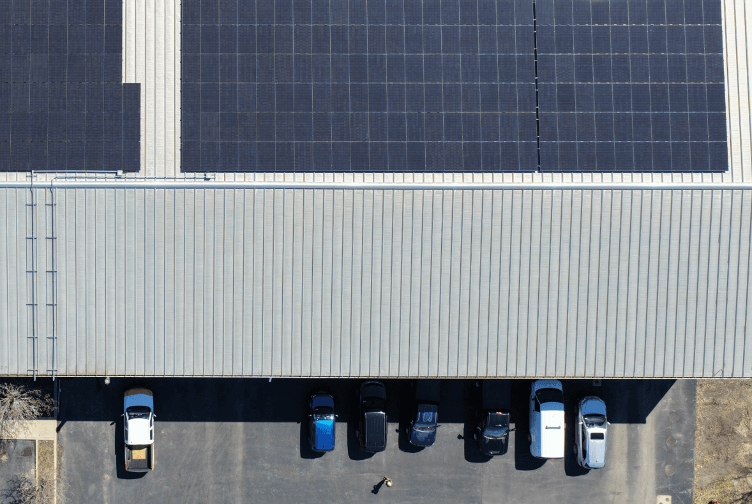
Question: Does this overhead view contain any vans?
Yes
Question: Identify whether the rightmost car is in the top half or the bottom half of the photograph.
bottom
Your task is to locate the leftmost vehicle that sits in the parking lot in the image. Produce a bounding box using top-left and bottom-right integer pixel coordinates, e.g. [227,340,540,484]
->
[120,386,156,472]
